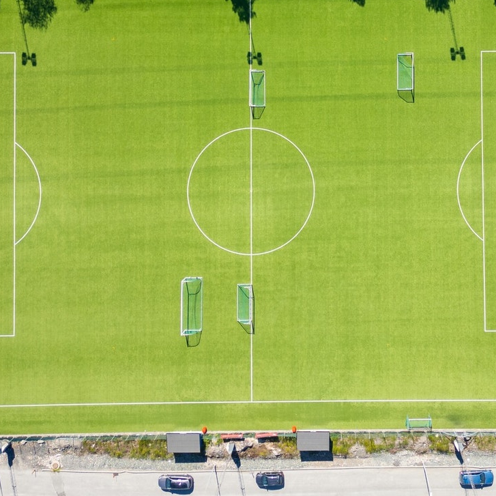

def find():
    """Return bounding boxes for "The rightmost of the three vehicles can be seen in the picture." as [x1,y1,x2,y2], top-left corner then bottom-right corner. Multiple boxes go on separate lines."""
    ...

[459,468,493,486]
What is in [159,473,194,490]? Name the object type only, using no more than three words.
car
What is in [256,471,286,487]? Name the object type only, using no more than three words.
car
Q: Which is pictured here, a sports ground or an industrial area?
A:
sports ground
